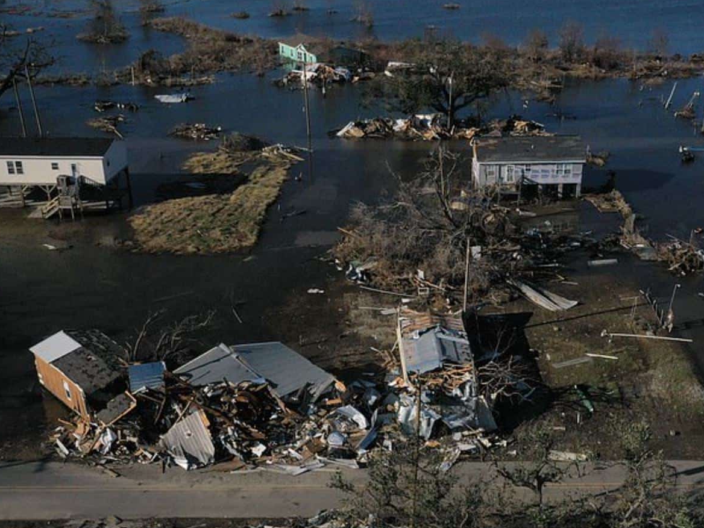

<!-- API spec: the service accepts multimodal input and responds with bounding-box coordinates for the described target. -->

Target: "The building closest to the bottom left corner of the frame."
[30,328,128,420]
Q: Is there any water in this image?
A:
Yes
